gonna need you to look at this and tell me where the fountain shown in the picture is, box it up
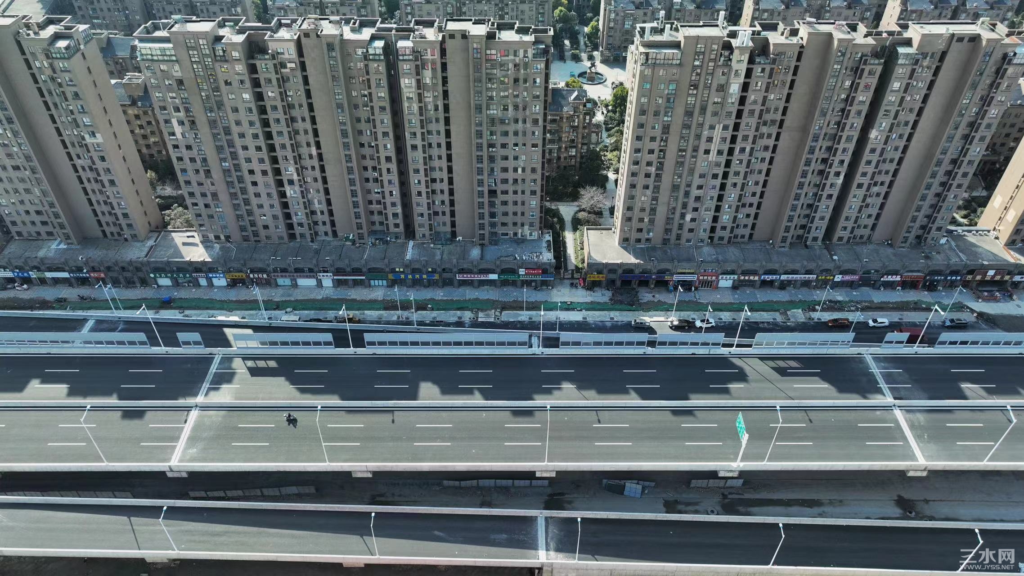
[577,72,607,86]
